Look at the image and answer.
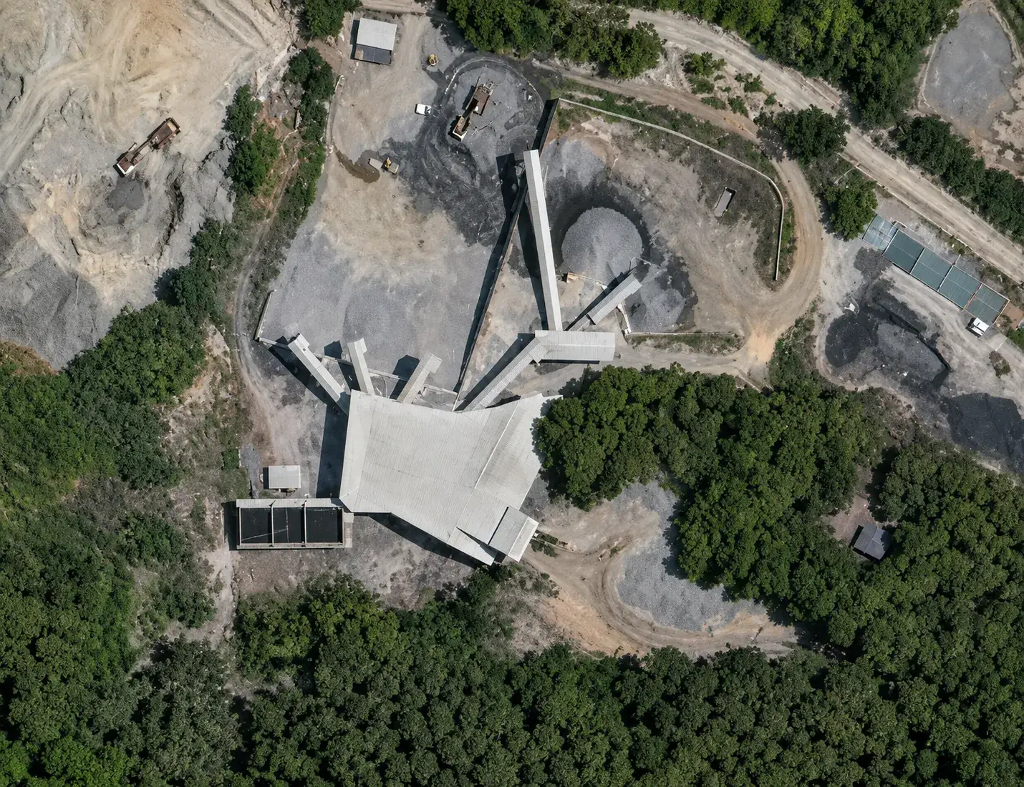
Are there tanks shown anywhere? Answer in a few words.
Yes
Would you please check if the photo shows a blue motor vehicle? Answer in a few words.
No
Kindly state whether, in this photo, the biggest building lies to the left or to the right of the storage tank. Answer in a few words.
right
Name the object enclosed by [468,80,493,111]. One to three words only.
truck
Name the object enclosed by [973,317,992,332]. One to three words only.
vehicle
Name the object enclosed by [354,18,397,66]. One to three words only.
shed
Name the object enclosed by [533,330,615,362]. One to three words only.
house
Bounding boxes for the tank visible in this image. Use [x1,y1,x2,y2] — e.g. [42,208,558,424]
[236,499,356,551]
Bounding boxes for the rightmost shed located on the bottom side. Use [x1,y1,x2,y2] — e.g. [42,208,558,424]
[854,525,892,560]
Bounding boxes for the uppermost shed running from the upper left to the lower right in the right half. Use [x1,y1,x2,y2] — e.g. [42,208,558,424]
[883,228,1010,325]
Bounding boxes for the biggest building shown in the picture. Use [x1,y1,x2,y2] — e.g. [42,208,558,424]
[339,390,556,565]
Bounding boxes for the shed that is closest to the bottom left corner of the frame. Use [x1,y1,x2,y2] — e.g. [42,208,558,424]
[268,465,301,489]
